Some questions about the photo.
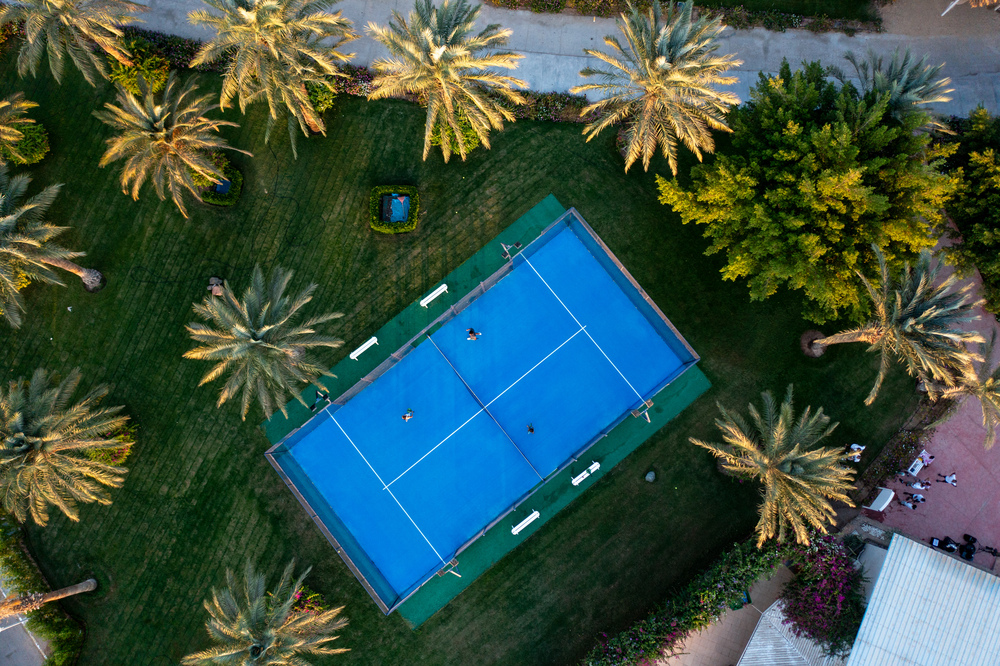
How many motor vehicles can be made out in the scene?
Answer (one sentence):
I count no motor vehicles.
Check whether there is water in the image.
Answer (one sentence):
No, the scene doesn't show any water.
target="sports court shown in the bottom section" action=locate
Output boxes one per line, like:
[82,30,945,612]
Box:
[262,194,715,632]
